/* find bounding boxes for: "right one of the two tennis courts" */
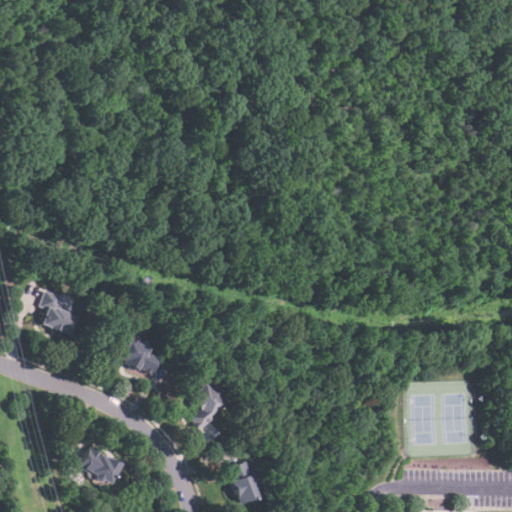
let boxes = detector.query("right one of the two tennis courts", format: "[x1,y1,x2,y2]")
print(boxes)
[438,380,478,454]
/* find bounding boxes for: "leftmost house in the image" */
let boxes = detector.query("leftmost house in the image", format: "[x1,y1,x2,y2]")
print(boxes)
[36,288,76,333]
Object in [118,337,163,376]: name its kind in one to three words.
house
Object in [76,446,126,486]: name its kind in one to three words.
house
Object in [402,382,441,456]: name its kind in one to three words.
tennis court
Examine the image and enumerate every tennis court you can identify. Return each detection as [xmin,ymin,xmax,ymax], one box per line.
[402,382,441,456]
[438,380,478,454]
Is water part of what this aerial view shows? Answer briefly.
No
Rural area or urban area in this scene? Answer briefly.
rural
